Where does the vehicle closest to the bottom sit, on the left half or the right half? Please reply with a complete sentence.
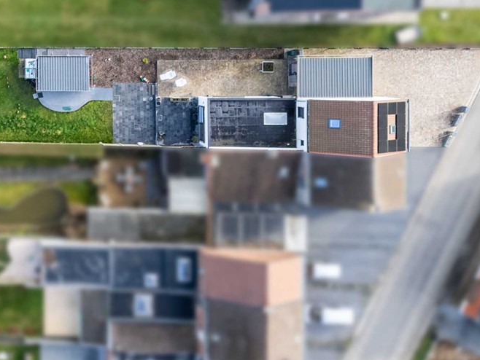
The vehicle closest to the bottom appears in the right half of the scene.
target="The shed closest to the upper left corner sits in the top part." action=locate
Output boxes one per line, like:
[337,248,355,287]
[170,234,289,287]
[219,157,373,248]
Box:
[33,55,93,91]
